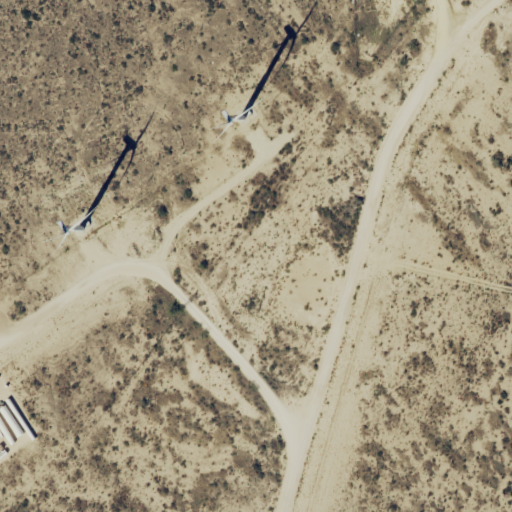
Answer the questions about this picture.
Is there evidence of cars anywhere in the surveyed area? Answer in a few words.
No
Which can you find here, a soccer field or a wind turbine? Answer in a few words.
wind turbine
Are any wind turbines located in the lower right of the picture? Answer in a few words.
No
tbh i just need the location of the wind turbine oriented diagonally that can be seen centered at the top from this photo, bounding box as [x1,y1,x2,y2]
[216,102,260,144]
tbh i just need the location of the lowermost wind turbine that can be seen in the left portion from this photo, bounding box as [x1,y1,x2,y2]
[48,214,94,256]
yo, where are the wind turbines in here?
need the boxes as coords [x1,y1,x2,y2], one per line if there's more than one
[216,102,260,144]
[48,214,94,256]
